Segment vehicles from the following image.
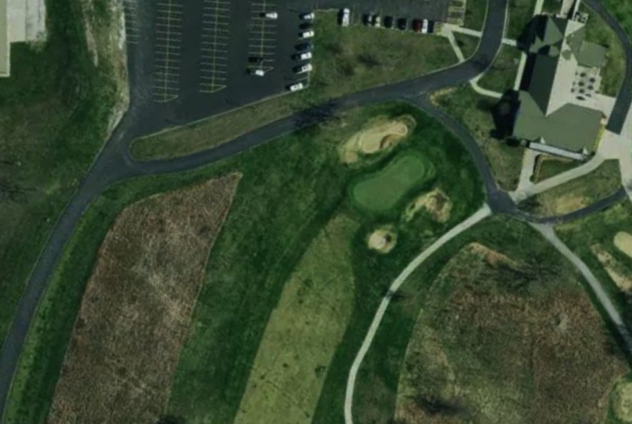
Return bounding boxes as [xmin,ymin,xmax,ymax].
[300,52,313,60]
[301,65,313,72]
[302,12,314,20]
[415,20,420,32]
[343,9,349,25]
[290,83,303,91]
[303,31,314,37]
[365,13,372,27]
[248,57,260,62]
[300,23,312,29]
[252,69,265,75]
[266,12,277,17]
[374,15,379,28]
[429,20,434,32]
[422,20,427,32]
